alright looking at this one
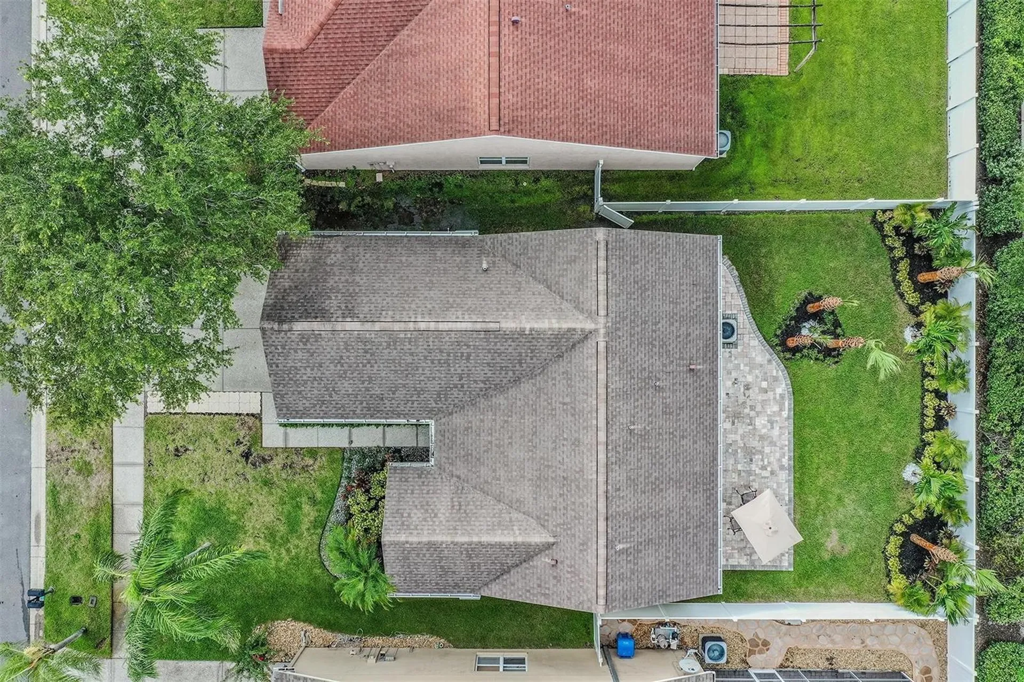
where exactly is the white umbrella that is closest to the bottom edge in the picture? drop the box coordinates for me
[731,488,803,564]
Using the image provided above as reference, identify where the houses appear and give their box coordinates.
[264,0,720,178]
[270,645,718,682]
[259,225,723,614]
